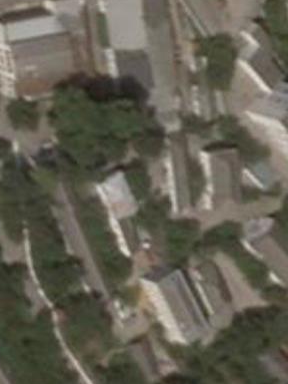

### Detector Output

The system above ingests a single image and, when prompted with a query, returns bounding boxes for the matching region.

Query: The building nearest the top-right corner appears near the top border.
[244,19,274,47]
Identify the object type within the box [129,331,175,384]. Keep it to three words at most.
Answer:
house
